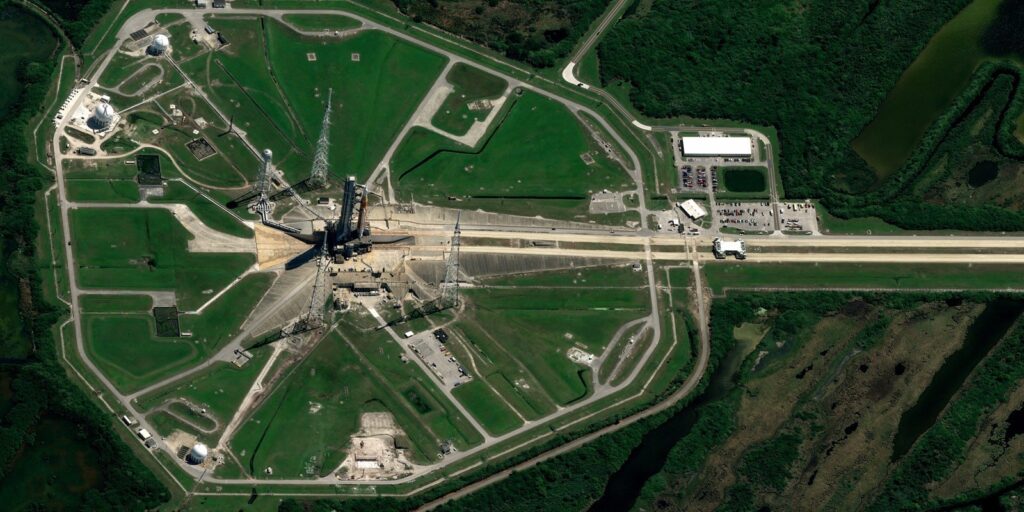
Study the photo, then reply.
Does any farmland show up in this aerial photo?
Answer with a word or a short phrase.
No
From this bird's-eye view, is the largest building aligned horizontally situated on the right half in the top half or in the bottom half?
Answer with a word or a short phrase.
top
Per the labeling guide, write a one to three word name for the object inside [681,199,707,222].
building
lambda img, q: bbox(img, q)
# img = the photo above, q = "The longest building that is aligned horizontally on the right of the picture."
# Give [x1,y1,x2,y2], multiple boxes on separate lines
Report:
[682,137,752,158]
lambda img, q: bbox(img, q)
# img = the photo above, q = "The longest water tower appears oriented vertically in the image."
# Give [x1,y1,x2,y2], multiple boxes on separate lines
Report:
[256,151,272,199]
